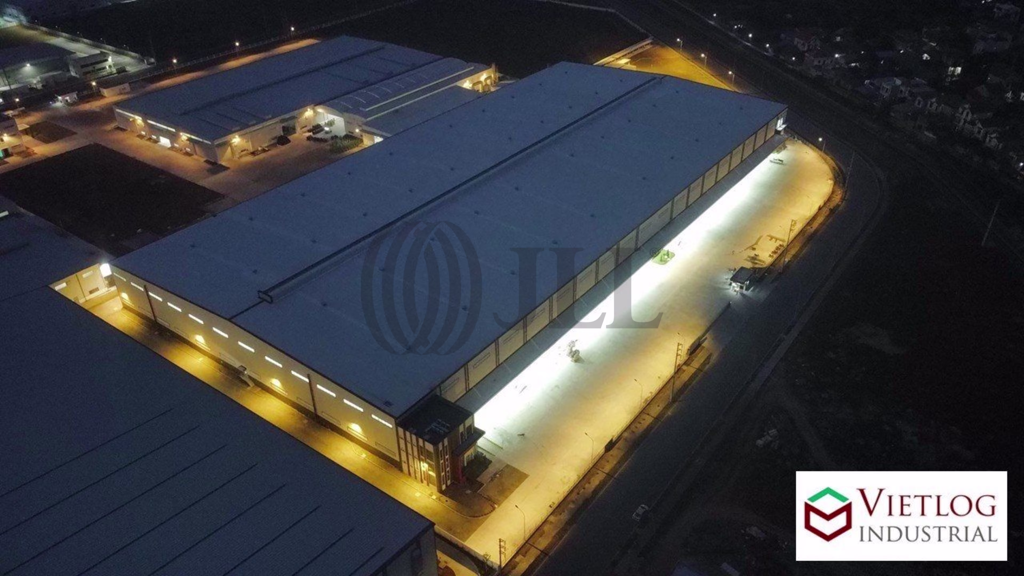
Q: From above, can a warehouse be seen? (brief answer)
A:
Yes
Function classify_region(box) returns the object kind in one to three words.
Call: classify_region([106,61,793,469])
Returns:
warehouse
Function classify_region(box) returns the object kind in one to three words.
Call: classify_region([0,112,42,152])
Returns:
building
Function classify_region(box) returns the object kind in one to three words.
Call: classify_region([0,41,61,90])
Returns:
building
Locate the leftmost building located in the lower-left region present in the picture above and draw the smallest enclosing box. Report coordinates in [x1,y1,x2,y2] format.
[0,281,440,576]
